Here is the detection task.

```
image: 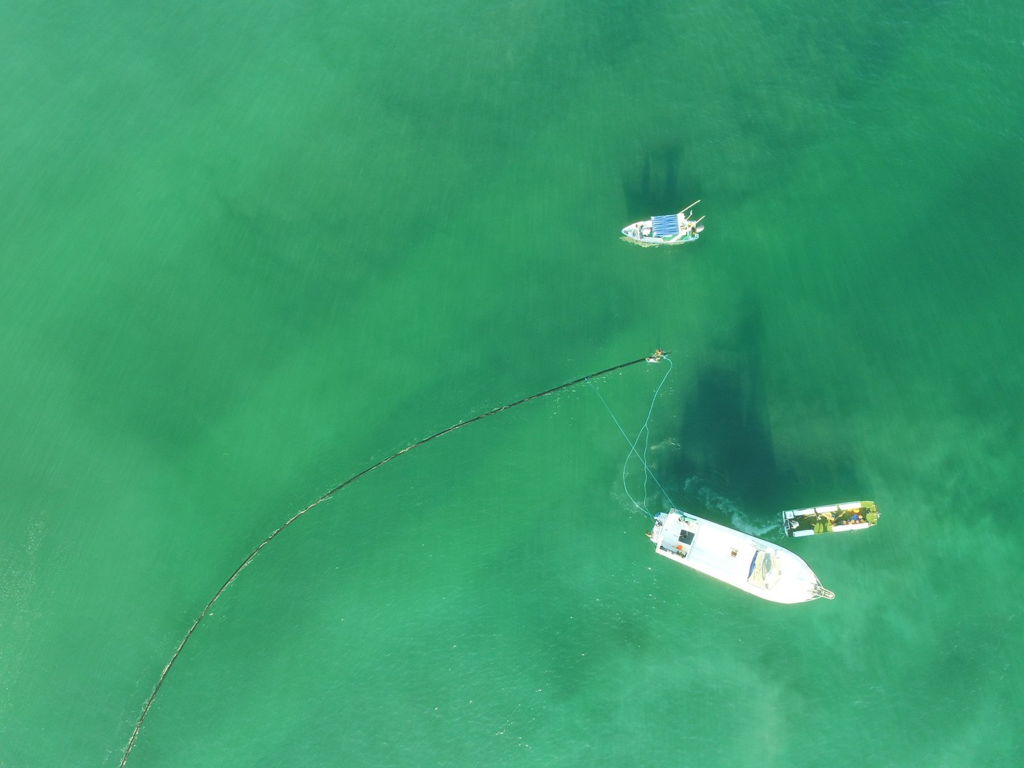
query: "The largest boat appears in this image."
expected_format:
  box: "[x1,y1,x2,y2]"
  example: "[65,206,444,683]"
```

[650,509,835,603]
